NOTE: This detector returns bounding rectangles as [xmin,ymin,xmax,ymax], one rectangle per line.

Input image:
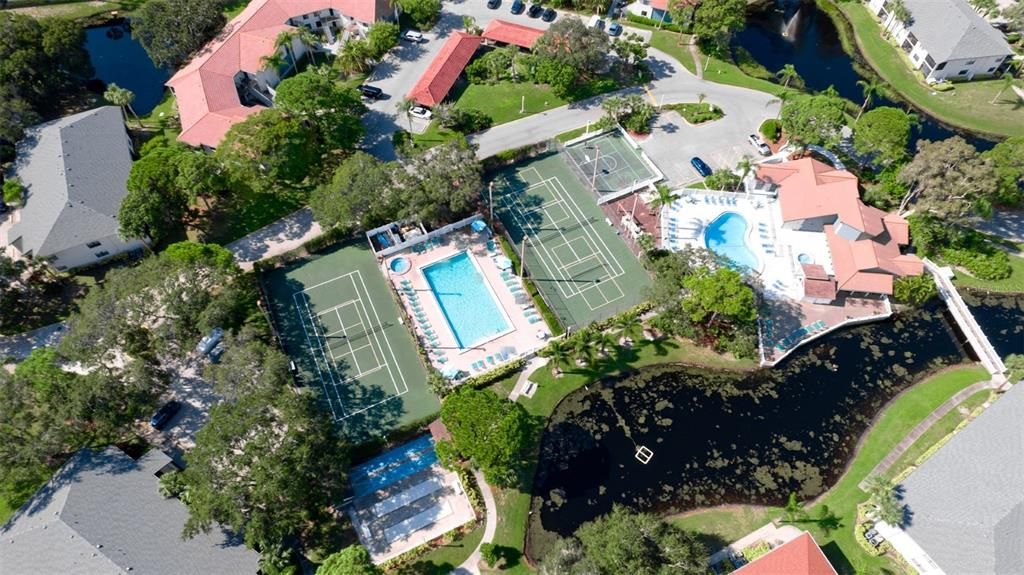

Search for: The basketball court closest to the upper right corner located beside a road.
[561,122,659,200]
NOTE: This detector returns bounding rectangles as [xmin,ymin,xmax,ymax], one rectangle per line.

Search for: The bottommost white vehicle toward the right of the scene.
[748,133,774,157]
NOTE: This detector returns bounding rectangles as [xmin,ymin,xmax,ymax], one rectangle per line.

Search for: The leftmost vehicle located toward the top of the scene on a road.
[358,81,383,98]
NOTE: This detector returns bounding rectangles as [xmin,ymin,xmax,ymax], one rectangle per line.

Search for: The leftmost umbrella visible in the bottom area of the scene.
[443,367,460,383]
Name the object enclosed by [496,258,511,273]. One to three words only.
umbrella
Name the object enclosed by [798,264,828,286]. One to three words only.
shed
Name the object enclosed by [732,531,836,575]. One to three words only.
building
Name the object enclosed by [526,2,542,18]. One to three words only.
car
